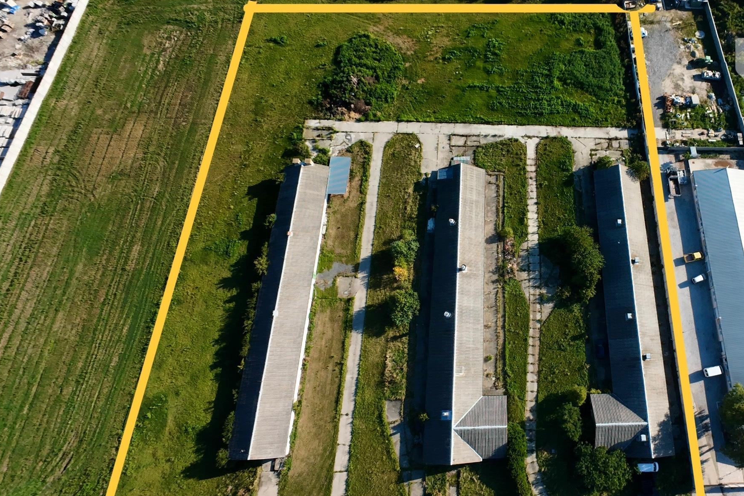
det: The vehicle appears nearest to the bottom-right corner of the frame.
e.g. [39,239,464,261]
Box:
[635,461,660,474]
